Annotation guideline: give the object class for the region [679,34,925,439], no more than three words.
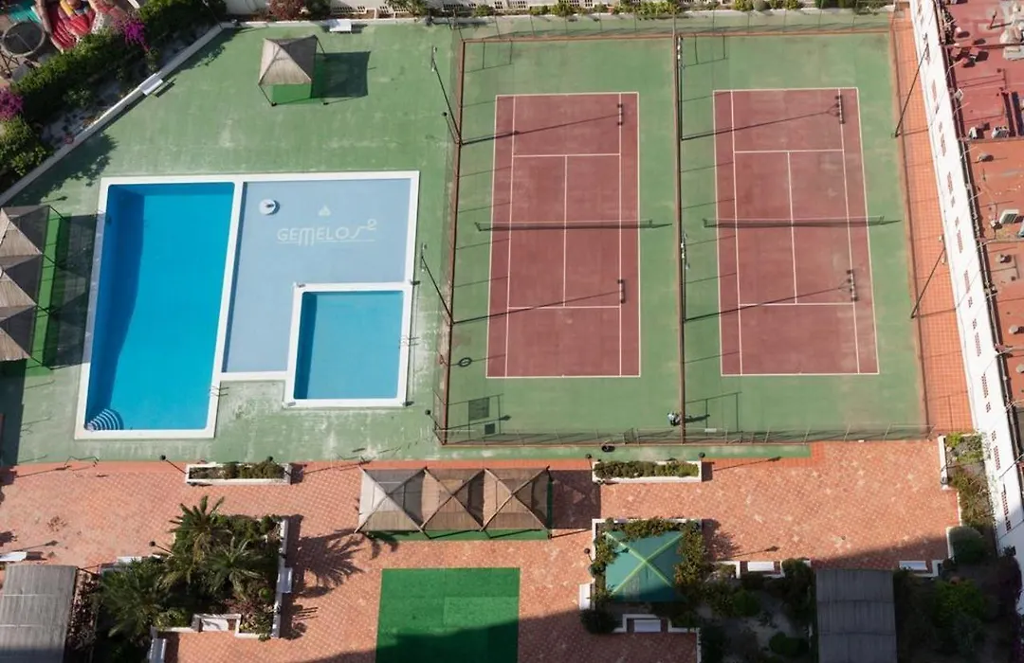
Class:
tennis court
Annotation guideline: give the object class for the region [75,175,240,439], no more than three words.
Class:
swimming pool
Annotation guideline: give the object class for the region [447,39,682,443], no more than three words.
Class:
tennis court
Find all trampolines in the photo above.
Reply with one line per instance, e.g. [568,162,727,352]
[1,21,47,62]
